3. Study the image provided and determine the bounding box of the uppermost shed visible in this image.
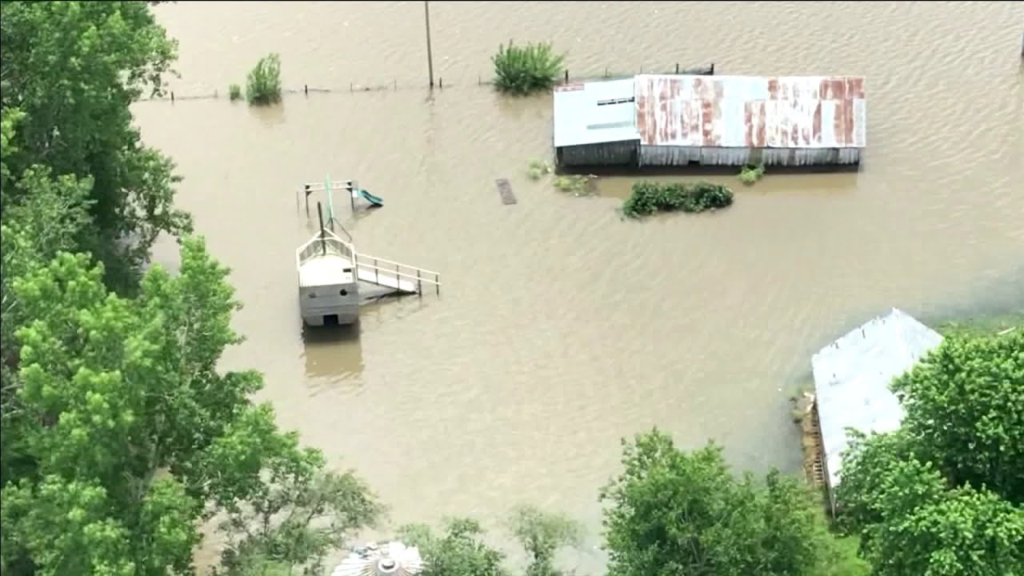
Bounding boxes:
[555,74,866,177]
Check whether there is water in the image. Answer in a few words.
Yes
